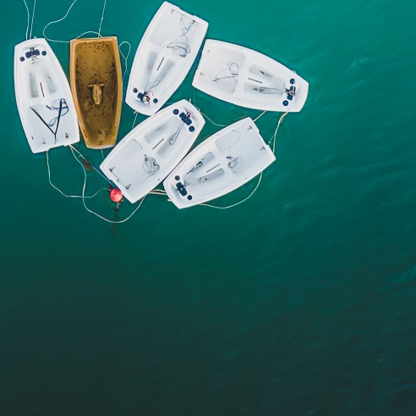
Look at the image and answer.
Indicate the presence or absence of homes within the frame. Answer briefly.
No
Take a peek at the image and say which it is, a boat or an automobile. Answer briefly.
boat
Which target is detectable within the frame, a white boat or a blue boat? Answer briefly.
white boat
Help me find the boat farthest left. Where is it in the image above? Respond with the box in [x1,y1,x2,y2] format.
[14,39,79,151]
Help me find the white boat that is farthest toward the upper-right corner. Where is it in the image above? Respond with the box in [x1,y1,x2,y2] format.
[192,39,307,113]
